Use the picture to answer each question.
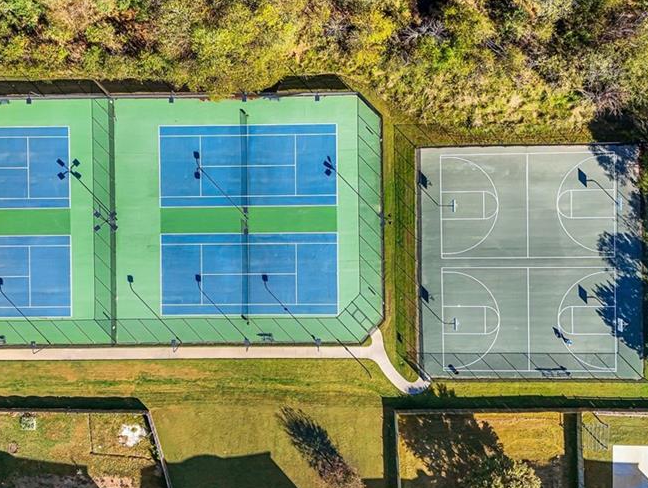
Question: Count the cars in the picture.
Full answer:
There are no cars in this view.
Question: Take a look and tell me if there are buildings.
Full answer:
No, no building is visible in the scene.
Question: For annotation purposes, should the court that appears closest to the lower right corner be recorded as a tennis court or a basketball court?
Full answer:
The court that appears closest to the lower right corner in the image is a basketball court.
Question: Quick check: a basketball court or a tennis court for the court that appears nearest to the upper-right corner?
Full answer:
The court that appears nearest to the upper-right corner can be classified as a basketball court.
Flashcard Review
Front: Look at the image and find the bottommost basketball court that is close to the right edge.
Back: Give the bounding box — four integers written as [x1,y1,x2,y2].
[441,267,619,373]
